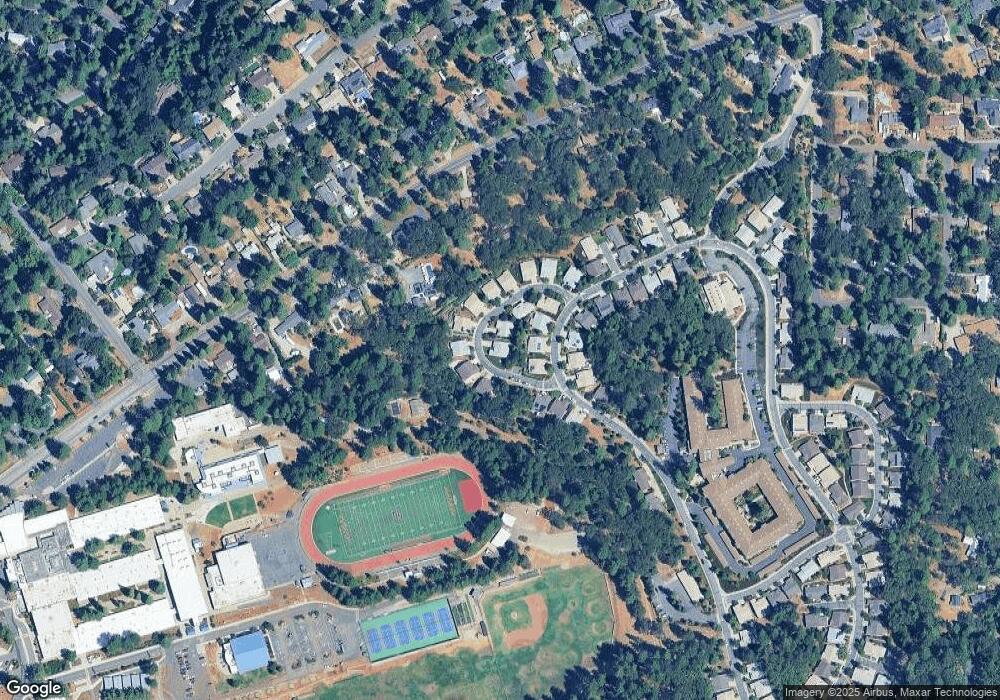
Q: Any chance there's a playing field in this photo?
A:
Yes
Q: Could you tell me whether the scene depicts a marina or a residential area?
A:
residential area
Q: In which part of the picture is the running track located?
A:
bottom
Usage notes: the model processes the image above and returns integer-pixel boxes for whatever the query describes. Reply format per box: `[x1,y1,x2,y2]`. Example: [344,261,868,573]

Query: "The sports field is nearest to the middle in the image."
[310,469,478,560]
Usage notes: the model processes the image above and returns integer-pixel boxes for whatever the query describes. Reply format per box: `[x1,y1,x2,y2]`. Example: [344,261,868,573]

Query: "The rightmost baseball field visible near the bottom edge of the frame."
[484,569,612,700]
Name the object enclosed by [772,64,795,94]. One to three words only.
house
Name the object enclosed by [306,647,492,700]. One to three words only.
sports field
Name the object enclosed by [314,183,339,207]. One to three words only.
house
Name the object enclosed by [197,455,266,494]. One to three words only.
building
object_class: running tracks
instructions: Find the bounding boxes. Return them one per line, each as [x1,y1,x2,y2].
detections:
[299,456,490,573]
